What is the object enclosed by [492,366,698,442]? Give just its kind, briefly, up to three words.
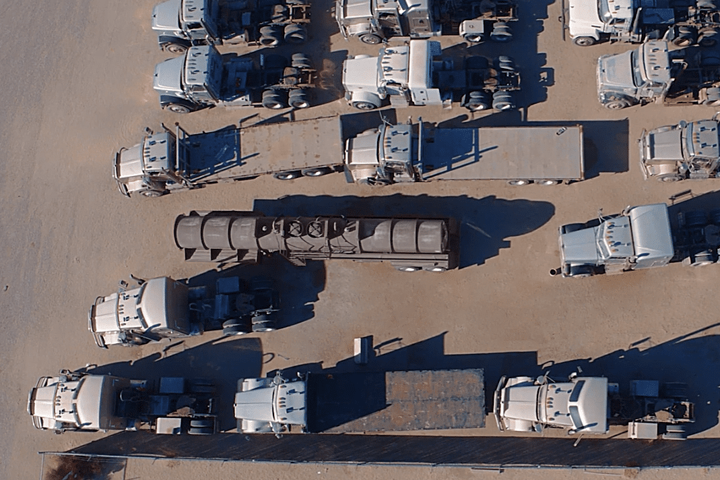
truck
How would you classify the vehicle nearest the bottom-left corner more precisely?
truck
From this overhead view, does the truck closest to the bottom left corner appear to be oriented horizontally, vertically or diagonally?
horizontally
